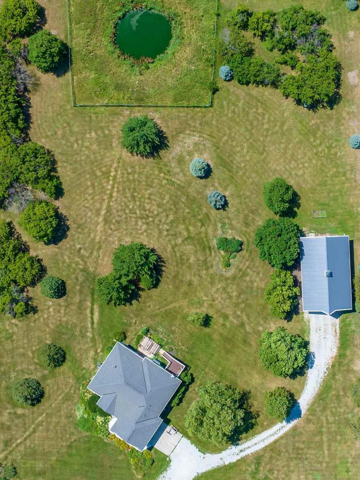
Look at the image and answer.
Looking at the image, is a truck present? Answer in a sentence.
No, this view has no truck in it.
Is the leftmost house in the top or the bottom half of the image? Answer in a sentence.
The bottom half of the photo is where the leftmost house is.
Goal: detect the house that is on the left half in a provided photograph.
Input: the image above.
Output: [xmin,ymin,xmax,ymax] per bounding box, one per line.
[86,342,182,453]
